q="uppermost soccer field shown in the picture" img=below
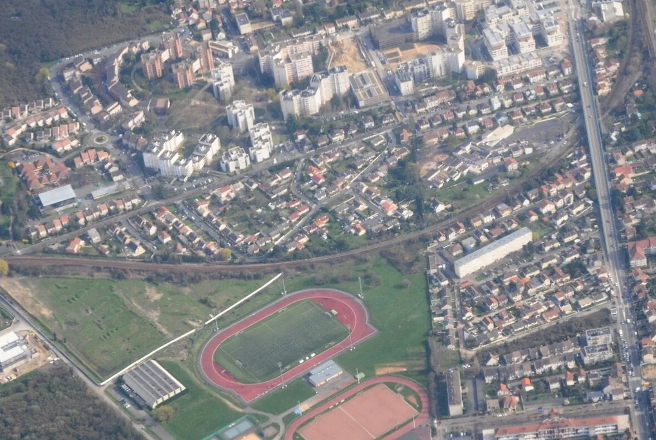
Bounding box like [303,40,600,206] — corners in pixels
[218,299,350,380]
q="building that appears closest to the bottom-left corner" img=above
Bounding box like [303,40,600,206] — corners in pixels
[0,331,27,372]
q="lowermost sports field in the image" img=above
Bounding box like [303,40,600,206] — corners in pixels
[298,383,418,440]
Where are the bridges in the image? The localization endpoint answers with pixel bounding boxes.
[568,0,625,281]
